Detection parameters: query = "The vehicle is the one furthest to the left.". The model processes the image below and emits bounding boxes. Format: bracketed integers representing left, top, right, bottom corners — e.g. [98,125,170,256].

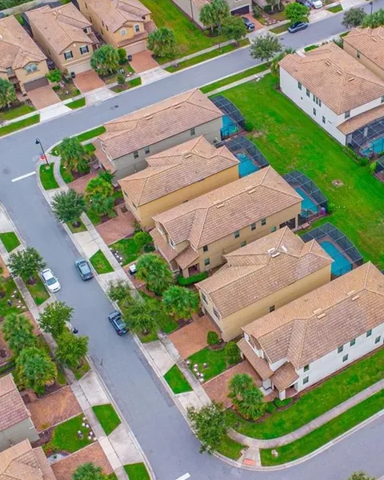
[41,267,64,294]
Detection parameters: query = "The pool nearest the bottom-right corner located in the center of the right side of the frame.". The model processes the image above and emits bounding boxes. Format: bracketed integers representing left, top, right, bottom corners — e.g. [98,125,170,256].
[328,251,352,277]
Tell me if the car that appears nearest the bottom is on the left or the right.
left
